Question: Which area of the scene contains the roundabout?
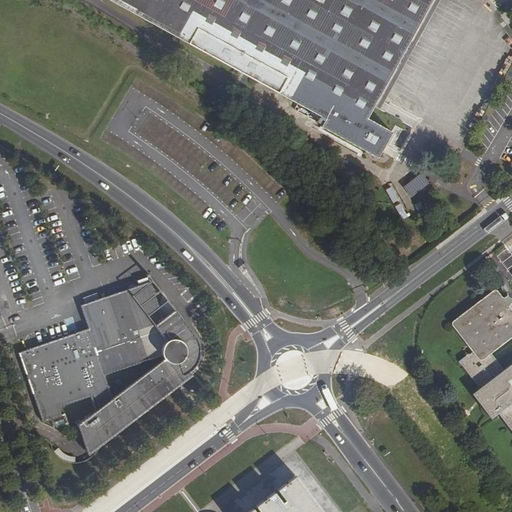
bottom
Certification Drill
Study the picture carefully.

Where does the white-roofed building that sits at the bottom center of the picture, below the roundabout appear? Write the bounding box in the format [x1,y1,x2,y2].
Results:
[252,474,328,512]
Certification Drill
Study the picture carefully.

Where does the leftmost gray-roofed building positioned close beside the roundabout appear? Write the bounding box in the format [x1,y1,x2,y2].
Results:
[20,271,203,454]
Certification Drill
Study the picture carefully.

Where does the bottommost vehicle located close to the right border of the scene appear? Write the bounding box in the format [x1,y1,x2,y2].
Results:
[484,214,508,233]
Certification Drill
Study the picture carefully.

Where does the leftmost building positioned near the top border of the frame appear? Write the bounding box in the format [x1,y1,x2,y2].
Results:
[115,0,438,160]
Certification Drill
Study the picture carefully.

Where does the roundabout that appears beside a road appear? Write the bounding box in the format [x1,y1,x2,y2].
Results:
[226,308,362,444]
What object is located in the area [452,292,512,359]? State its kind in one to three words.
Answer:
building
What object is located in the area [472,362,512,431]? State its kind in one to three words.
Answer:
building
